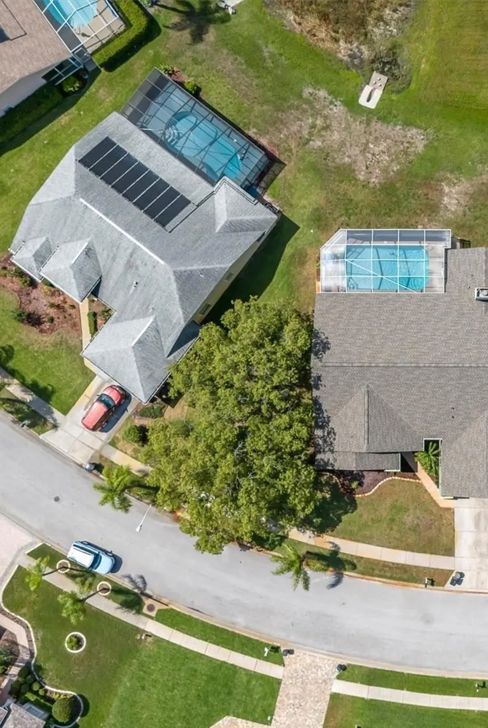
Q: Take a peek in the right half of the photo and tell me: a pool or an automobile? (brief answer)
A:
pool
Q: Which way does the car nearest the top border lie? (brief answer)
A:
on a diagonal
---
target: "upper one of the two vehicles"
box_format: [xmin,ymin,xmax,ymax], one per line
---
[83,384,126,433]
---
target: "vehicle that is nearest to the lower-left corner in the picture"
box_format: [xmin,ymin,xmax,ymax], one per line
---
[65,539,117,575]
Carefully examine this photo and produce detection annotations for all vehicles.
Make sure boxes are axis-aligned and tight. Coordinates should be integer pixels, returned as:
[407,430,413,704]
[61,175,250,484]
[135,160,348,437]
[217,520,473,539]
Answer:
[65,539,117,575]
[83,384,126,433]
